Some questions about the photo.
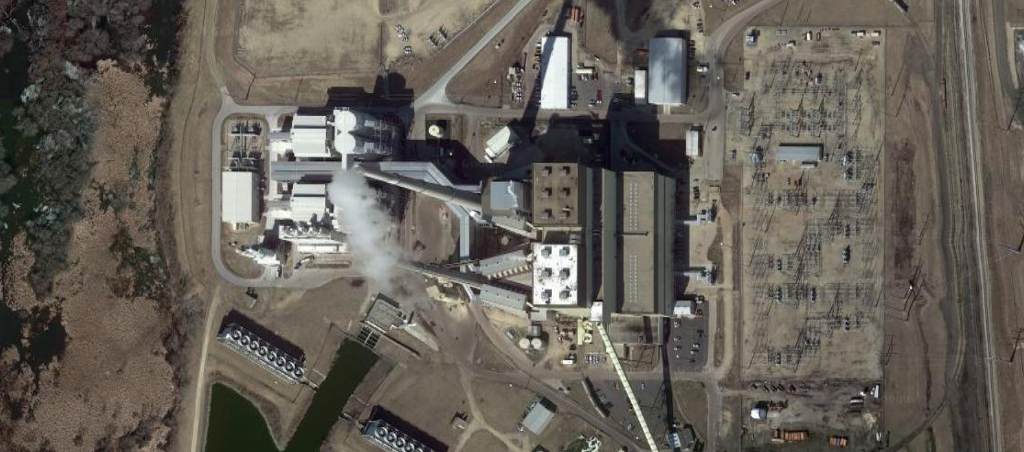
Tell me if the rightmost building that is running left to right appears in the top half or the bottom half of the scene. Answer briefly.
top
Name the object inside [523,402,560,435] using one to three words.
shed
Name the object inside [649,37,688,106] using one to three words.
building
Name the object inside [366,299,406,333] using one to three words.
house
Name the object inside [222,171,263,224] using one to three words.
building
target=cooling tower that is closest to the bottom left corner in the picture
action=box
[220,320,322,389]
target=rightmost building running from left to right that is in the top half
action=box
[775,144,823,166]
